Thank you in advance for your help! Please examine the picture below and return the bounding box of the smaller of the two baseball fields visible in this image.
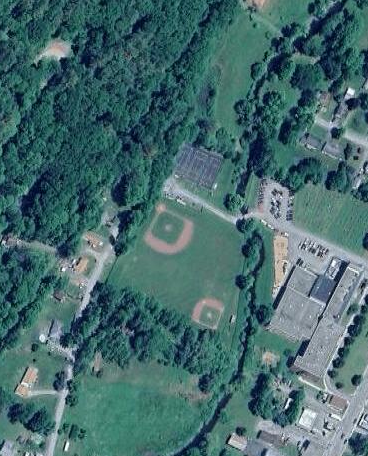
[190,296,225,337]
